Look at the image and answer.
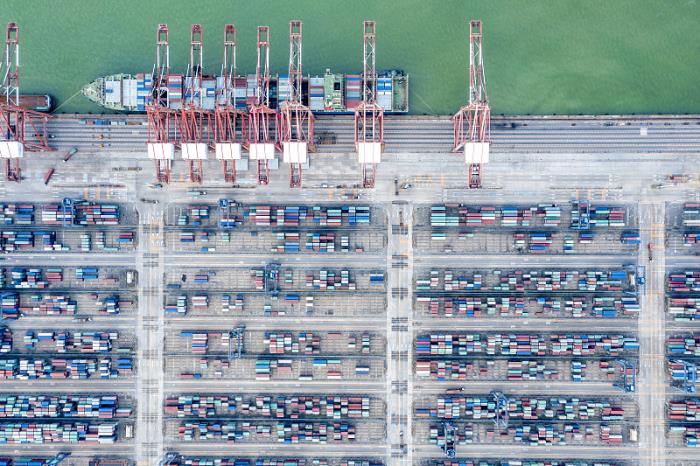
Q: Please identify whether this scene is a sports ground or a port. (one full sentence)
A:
The picture captures a port.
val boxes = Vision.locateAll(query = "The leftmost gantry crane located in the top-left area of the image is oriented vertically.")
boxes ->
[0,18,61,182]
